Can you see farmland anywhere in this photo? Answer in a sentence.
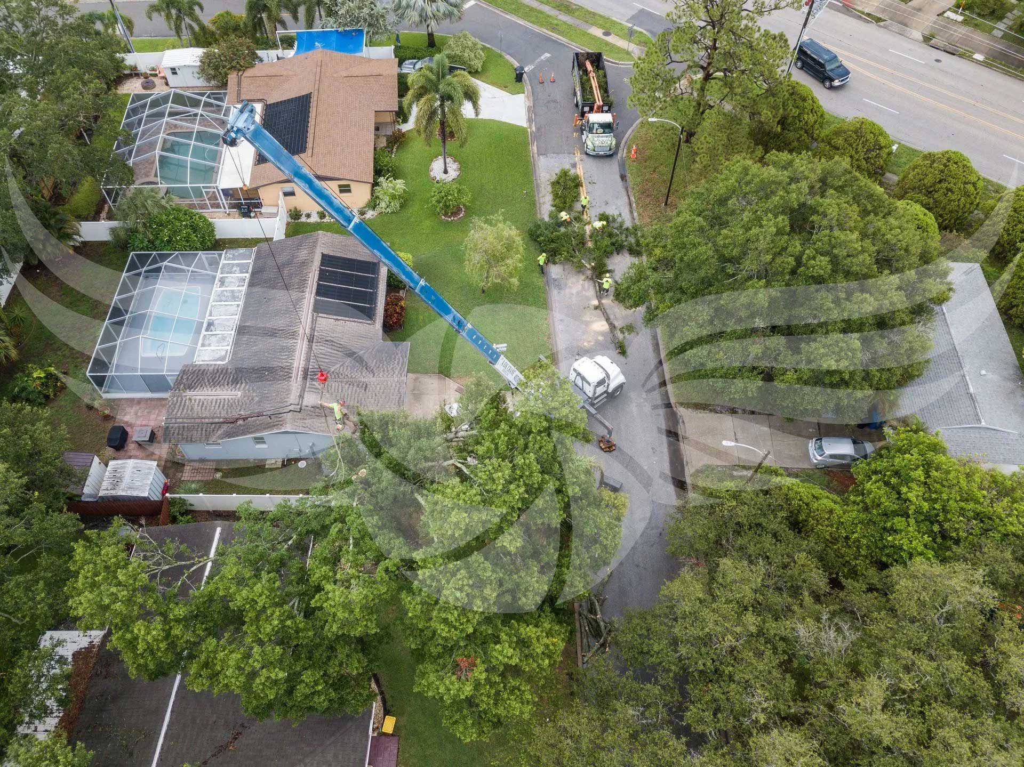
No, there's no farmland in this view.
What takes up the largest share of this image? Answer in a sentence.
For the most part, this view shows trees.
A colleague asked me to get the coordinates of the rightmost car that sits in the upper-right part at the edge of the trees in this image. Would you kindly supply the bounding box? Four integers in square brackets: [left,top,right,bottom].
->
[789,35,857,90]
